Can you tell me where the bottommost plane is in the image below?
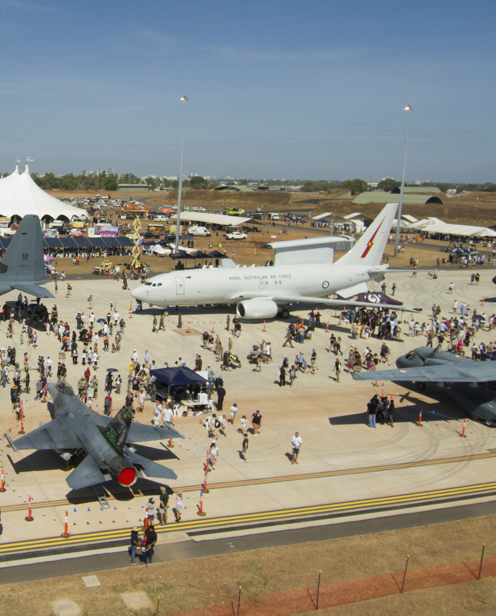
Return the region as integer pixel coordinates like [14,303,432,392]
[3,377,187,498]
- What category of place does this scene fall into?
airport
